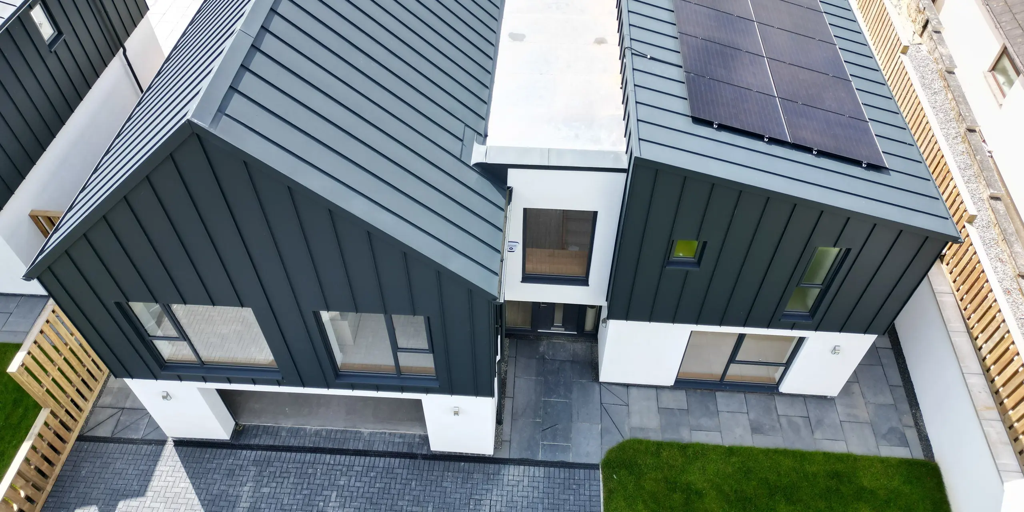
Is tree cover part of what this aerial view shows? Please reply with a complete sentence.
No, the scene doesn't show any tree cover.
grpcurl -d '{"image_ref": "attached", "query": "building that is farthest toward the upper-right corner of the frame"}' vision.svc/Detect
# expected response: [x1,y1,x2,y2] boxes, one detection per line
[930,0,1024,199]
